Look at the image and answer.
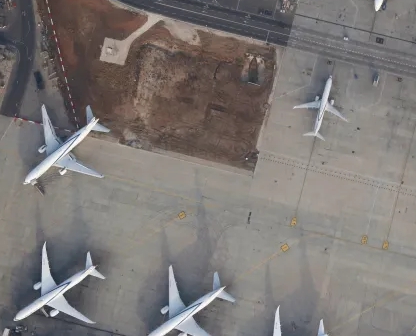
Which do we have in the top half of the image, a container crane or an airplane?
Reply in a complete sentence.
Looking in the top half of the image, you will find an airplane.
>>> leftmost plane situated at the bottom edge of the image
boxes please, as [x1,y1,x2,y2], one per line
[14,242,105,323]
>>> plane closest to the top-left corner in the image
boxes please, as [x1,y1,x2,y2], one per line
[24,104,109,184]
